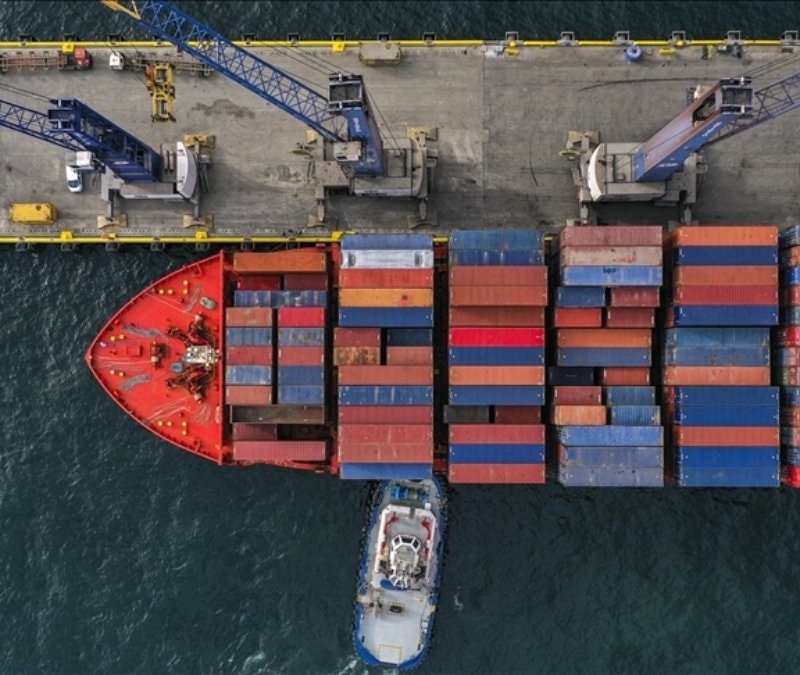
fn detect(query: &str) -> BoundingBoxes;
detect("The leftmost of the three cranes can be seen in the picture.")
[0,80,218,233]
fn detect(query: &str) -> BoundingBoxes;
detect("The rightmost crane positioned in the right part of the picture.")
[562,59,800,228]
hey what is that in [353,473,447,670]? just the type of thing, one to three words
boat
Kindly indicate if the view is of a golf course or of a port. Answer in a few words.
port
